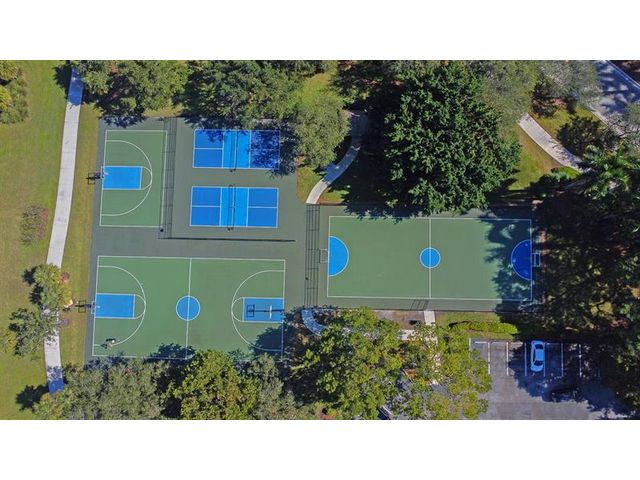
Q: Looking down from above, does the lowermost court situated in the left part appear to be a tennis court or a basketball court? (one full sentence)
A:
The lowermost court situated in the left part in the image is a basketball court.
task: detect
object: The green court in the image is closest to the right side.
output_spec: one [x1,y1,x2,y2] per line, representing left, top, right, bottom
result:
[328,216,532,301]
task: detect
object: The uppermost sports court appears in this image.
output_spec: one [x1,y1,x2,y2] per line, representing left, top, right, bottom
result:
[192,129,280,169]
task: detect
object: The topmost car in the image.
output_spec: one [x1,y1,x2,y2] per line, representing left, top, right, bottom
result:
[529,342,546,374]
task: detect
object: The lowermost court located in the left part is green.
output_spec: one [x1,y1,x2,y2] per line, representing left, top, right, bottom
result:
[92,256,284,361]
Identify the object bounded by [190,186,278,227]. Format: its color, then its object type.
blue sports court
